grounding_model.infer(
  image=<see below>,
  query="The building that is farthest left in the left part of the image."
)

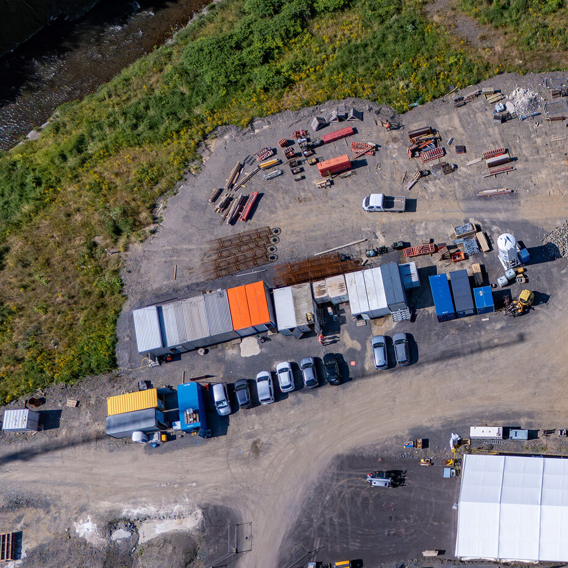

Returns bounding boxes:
[133,305,172,359]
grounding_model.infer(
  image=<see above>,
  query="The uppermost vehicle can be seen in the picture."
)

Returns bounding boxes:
[363,194,407,212]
